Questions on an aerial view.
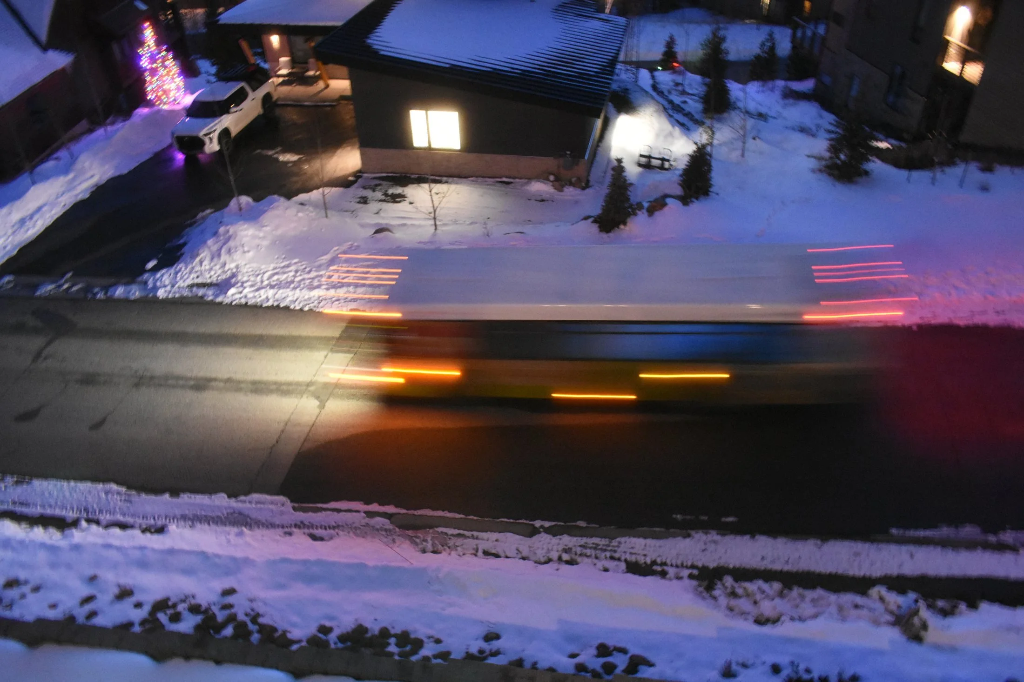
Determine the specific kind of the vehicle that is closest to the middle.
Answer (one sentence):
I'd identify the vehicle that is closest to the middle as a bus.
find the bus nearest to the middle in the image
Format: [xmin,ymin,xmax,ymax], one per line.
[342,254,870,412]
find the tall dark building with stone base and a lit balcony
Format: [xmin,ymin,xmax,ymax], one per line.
[793,0,1024,143]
